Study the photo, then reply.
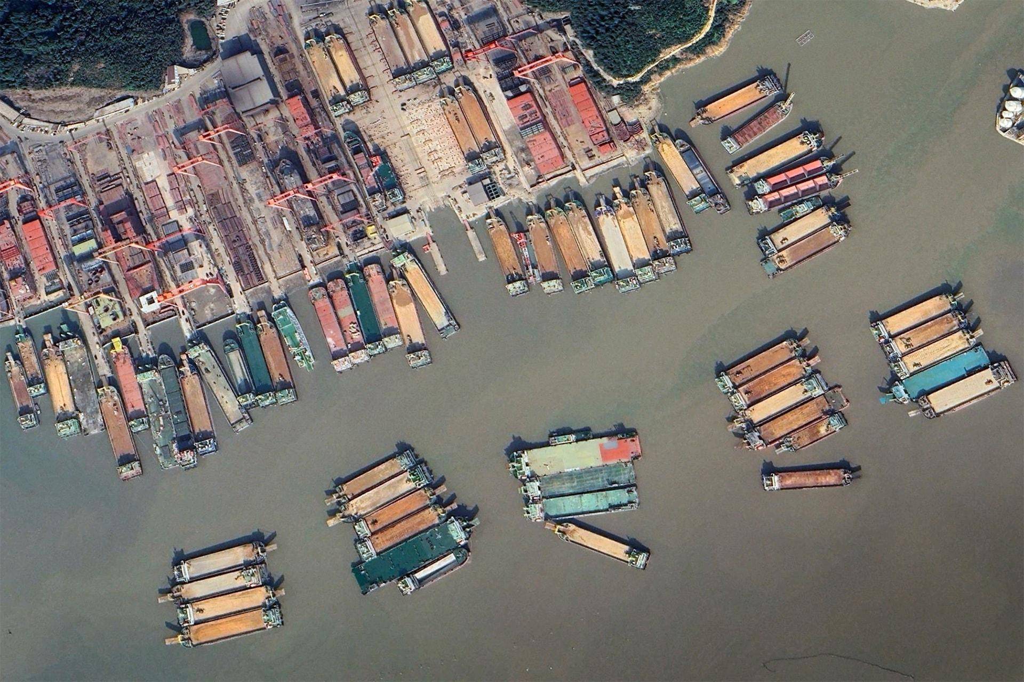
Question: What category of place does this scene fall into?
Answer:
port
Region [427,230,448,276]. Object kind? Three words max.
pier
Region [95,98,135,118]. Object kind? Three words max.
shed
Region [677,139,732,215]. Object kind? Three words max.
ship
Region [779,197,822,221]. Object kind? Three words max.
boat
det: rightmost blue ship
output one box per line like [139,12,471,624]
[883,345,993,402]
